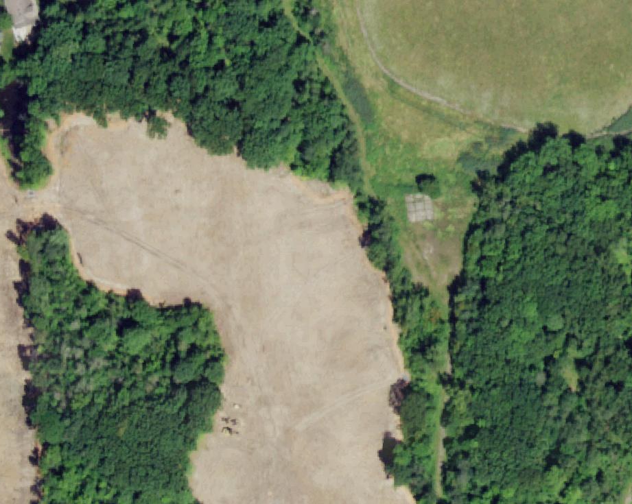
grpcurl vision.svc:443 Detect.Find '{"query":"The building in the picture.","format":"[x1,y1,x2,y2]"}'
[5,0,42,42]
